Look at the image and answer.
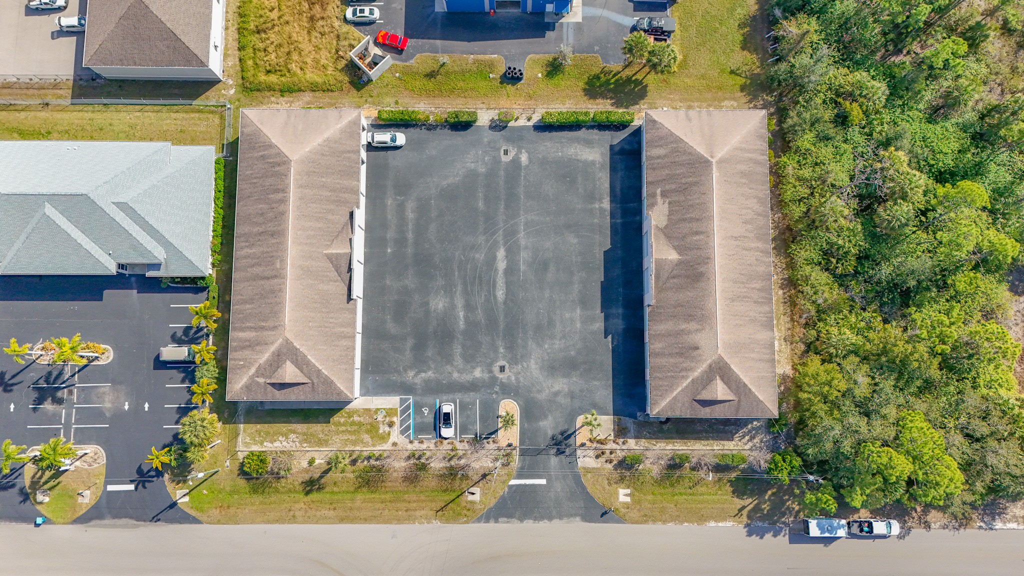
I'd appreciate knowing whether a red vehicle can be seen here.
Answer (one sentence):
Yes, a red vehicle can be made out from above.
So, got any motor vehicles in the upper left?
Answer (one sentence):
Yes, looking in the upper left, one can make out a motor vehicle.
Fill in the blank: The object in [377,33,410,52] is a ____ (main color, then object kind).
red car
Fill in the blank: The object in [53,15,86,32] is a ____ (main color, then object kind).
white car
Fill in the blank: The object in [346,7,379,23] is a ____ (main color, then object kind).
white car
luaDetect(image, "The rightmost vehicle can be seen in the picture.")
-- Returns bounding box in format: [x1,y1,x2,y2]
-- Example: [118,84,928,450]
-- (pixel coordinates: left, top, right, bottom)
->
[848,520,897,538]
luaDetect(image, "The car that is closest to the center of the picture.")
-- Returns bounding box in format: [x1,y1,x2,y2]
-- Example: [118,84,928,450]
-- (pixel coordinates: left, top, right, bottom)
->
[439,403,455,438]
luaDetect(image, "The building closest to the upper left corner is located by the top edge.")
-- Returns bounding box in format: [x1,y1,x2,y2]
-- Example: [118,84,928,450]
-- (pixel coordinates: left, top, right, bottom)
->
[83,0,226,80]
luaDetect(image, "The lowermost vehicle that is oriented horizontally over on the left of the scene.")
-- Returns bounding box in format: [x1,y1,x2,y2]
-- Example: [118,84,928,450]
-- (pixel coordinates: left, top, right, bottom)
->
[158,346,199,362]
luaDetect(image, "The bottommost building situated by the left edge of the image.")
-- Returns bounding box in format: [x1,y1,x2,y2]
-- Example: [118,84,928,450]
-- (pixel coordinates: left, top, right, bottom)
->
[0,141,220,277]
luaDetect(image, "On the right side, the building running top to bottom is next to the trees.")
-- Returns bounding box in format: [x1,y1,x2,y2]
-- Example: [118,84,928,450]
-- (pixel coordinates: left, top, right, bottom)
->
[640,109,780,418]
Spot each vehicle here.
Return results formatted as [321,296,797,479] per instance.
[848,520,897,538]
[29,0,69,10]
[53,15,86,32]
[370,132,404,148]
[377,33,410,52]
[158,346,199,362]
[439,403,455,438]
[346,7,379,23]
[636,15,675,33]
[631,31,667,48]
